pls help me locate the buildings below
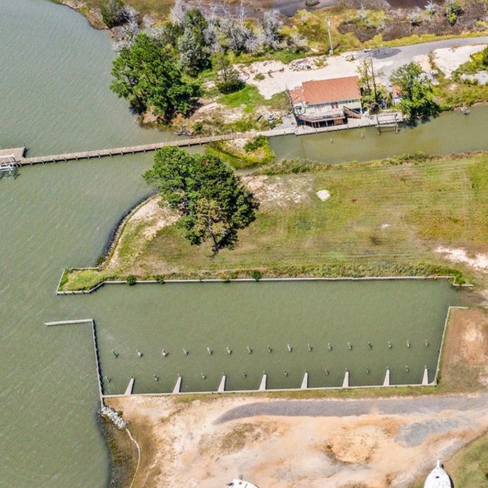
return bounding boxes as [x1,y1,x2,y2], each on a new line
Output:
[385,83,402,103]
[288,75,362,131]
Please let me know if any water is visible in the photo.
Yes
